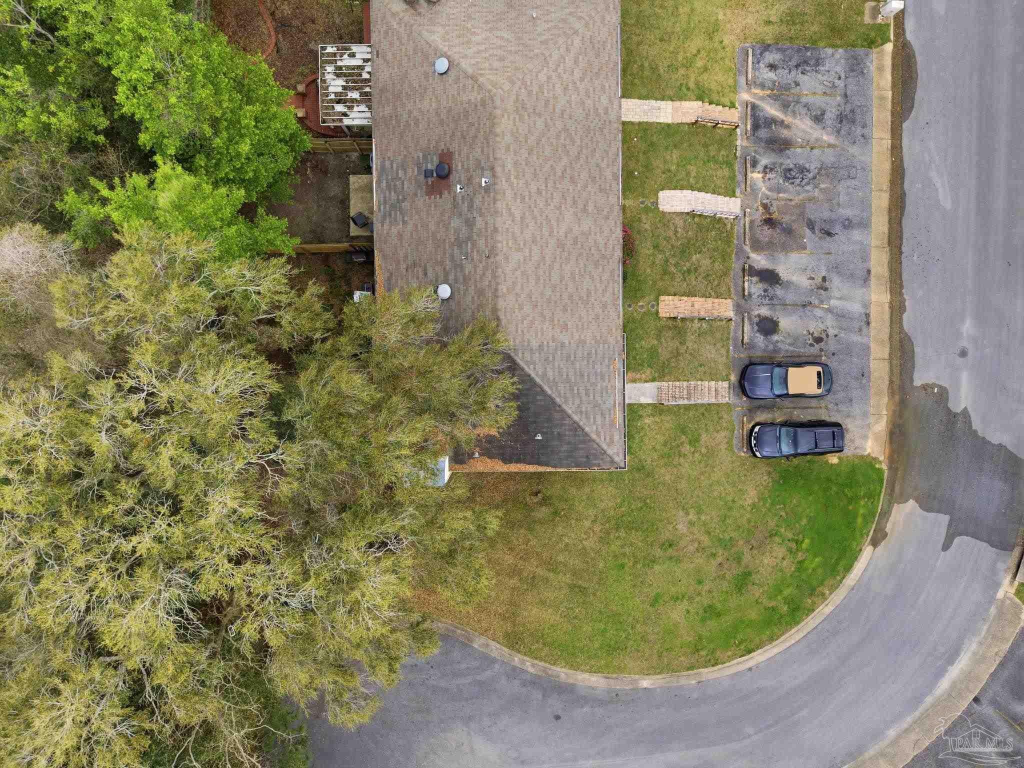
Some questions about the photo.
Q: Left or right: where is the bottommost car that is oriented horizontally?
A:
right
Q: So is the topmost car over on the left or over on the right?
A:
right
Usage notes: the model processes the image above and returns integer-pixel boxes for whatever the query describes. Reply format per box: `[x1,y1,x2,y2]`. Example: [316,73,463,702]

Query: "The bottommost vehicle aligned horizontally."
[745,417,847,462]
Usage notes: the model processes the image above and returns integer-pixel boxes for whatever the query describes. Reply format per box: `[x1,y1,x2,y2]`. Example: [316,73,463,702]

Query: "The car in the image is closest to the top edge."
[736,359,833,402]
